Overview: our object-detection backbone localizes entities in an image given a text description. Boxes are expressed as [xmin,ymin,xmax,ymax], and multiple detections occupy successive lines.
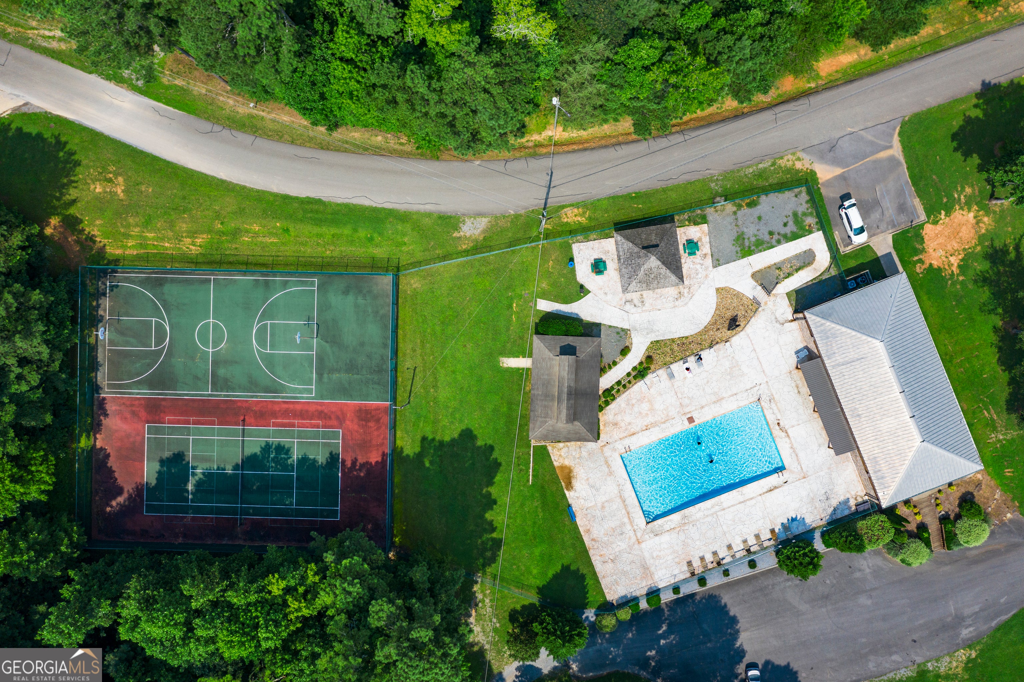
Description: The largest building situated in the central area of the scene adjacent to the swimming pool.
[529,334,602,443]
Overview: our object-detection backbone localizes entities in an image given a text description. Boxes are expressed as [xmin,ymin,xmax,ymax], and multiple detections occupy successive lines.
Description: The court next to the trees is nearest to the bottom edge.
[91,395,393,550]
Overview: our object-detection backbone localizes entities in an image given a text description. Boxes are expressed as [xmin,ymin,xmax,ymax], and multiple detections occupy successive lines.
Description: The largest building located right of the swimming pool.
[795,270,985,509]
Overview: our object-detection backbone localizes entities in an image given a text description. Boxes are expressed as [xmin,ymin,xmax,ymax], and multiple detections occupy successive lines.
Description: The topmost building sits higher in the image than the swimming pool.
[613,222,685,294]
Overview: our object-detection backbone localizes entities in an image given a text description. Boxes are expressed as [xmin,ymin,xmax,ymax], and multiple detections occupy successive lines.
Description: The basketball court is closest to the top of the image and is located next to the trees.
[95,268,399,402]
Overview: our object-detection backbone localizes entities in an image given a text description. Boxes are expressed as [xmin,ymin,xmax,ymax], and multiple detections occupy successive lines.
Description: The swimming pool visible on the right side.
[619,399,787,525]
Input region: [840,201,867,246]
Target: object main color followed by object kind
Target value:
white car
